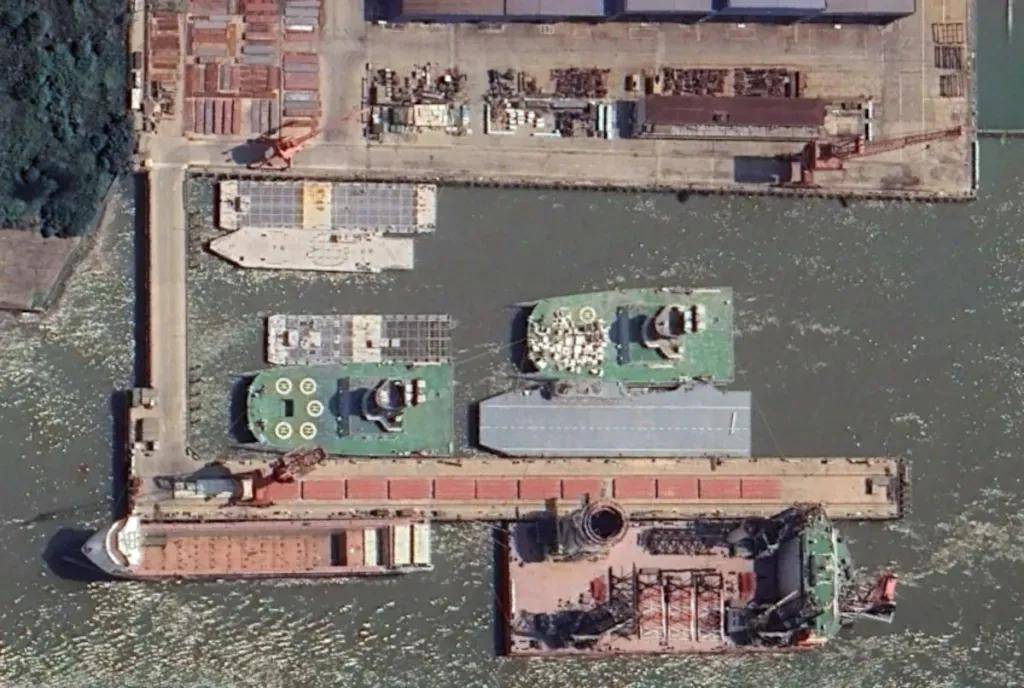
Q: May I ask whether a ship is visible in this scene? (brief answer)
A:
Yes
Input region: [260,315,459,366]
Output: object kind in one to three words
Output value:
ship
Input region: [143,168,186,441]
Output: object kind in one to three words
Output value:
pier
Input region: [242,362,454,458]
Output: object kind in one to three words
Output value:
ship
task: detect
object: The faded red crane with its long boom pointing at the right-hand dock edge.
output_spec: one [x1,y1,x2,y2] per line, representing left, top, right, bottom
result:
[774,129,962,183]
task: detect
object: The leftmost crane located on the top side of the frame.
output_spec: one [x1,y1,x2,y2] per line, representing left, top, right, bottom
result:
[256,126,333,171]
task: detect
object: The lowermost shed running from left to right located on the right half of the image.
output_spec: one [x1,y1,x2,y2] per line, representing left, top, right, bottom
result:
[634,96,823,141]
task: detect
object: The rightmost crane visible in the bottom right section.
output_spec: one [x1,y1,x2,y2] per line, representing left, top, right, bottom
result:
[729,590,801,640]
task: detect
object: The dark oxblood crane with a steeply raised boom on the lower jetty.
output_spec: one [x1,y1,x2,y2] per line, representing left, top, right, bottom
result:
[224,449,328,509]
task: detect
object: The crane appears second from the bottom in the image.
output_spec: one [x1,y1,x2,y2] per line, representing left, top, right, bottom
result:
[640,526,785,555]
